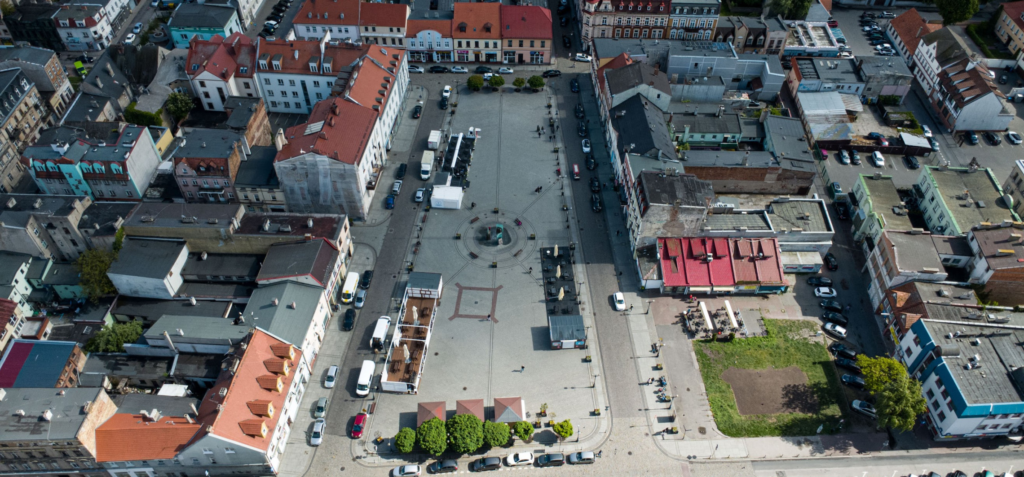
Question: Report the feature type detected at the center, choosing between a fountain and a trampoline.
fountain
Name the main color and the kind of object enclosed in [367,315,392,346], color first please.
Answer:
white vehicle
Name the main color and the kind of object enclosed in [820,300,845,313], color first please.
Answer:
black vehicle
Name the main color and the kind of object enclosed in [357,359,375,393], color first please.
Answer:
white vehicle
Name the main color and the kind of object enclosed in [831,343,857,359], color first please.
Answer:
black car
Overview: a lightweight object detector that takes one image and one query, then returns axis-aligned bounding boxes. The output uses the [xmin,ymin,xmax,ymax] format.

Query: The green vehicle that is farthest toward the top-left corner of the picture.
[73,59,86,74]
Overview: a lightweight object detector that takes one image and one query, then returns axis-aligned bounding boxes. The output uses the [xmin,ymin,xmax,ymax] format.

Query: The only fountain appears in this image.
[474,223,513,250]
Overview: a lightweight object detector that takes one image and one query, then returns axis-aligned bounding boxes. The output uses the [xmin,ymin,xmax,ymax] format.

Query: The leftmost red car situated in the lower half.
[351,413,367,438]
